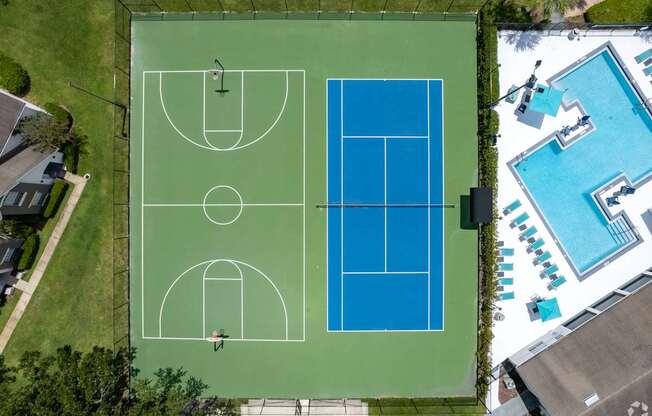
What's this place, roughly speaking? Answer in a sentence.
This looks like a sports ground.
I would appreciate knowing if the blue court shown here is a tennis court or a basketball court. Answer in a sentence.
The blue court in the image is a tennis court.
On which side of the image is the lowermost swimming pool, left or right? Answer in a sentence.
The lowermost swimming pool appears in the right half of the scene.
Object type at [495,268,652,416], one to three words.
building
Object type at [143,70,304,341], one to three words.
basketball court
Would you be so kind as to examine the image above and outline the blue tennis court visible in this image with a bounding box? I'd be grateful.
[327,78,443,331]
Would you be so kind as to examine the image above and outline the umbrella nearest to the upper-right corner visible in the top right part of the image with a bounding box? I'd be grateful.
[528,83,562,117]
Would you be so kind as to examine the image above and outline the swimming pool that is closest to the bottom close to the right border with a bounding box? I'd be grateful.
[505,39,652,280]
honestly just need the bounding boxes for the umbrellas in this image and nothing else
[533,297,562,322]
[528,83,562,117]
